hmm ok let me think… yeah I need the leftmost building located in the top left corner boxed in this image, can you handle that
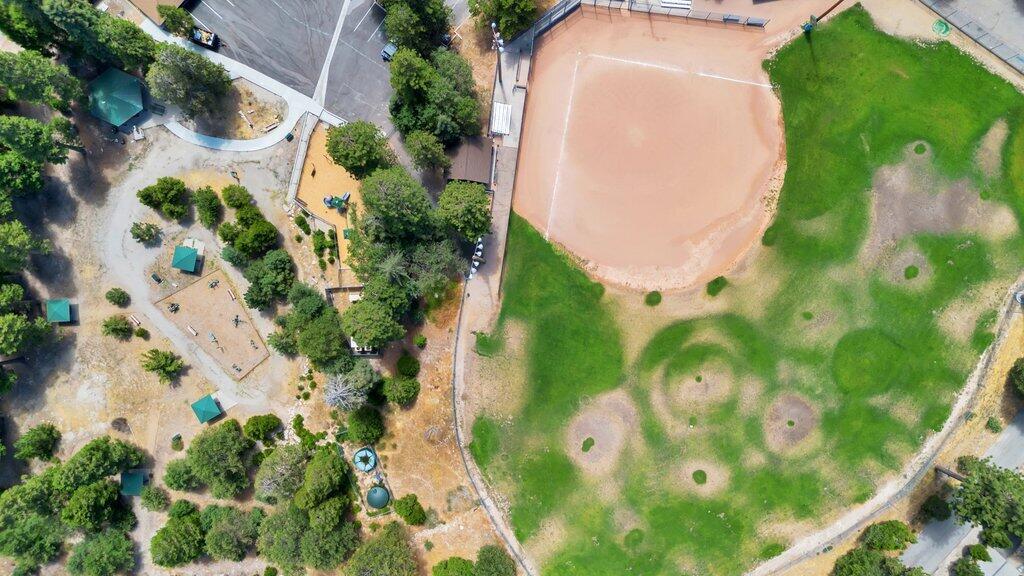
[88,68,151,128]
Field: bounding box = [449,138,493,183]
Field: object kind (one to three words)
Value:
building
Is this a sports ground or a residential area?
sports ground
